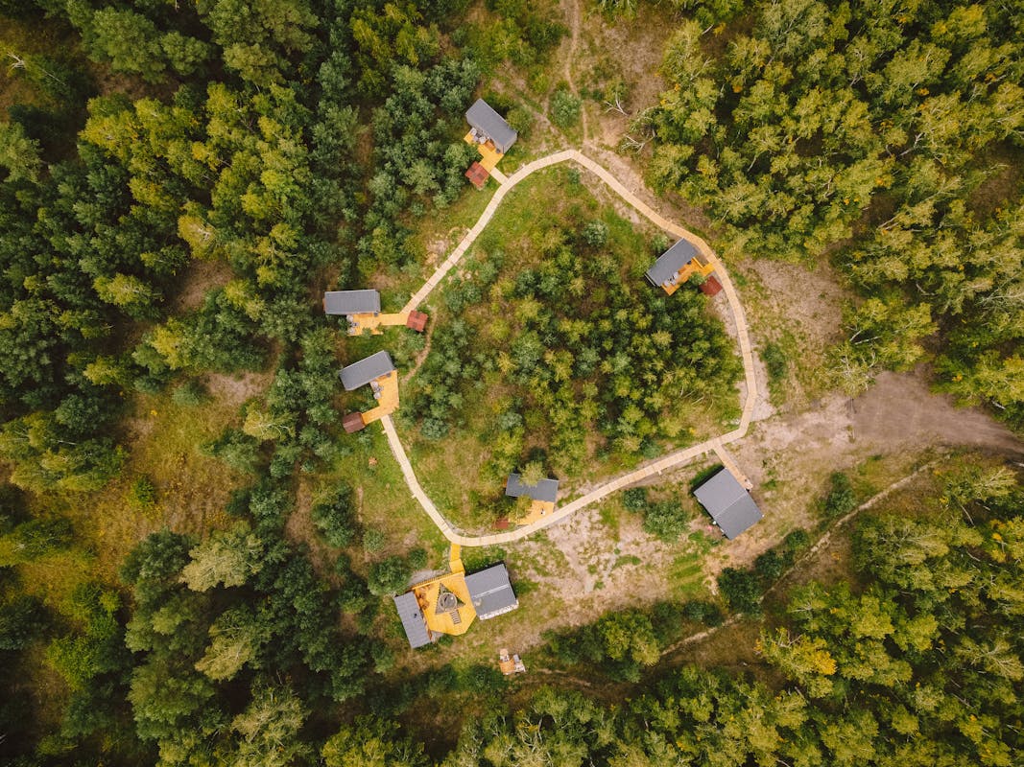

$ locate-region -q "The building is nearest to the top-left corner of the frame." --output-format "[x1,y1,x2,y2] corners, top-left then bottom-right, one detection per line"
[322,289,381,315]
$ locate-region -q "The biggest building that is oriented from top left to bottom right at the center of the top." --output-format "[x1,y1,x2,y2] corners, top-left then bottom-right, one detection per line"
[466,97,517,152]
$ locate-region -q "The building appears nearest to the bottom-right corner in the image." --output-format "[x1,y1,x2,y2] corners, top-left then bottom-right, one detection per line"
[688,465,763,541]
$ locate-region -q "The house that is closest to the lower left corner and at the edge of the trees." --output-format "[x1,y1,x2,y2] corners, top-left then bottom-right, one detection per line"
[394,587,432,649]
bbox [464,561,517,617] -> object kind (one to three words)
house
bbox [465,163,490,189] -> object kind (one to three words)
shed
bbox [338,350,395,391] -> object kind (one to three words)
building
